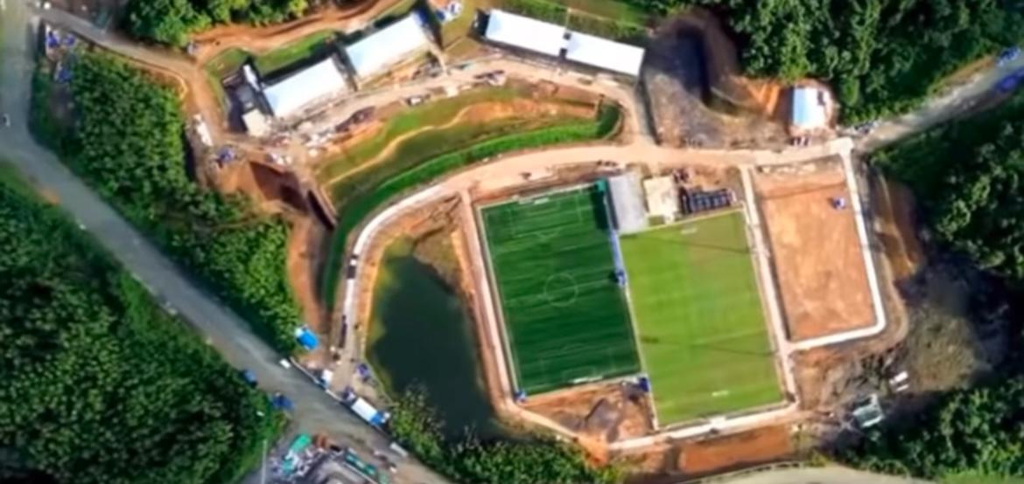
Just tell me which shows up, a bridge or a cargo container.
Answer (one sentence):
There is a cargo container in the scene.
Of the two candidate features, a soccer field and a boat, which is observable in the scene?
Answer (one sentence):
There is a soccer field in the scene.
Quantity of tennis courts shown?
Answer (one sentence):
I count no tennis courts.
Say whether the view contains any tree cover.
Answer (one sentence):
Yes, tree cover can be seen from above here.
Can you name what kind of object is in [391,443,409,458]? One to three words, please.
vehicle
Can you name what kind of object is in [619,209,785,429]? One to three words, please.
soccer field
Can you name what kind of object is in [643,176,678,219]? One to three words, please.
building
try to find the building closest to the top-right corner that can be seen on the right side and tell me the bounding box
[793,85,827,125]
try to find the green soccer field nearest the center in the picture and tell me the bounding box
[481,184,641,400]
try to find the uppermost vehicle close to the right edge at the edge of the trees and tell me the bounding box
[1001,47,1022,63]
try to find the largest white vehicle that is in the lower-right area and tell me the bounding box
[886,371,908,386]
